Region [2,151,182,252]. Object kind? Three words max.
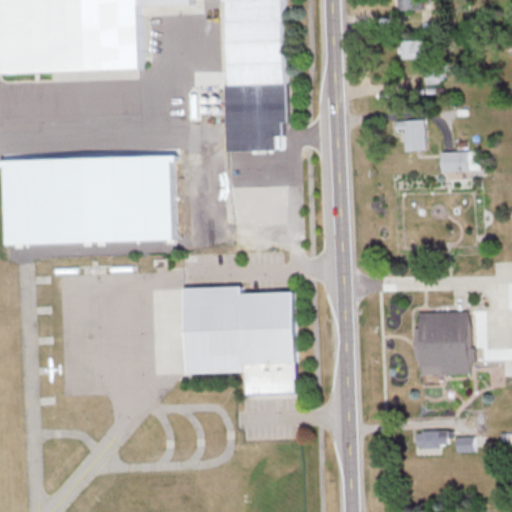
hangar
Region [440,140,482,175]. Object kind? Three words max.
house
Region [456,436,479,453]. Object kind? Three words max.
building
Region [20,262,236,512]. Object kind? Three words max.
airport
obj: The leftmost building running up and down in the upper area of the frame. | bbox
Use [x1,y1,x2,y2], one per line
[226,0,290,155]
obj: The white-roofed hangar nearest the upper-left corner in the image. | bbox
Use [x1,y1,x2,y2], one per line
[0,0,150,78]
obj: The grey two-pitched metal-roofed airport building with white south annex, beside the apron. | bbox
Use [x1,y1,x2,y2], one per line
[184,287,298,394]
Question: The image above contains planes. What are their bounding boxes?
[43,356,60,384]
